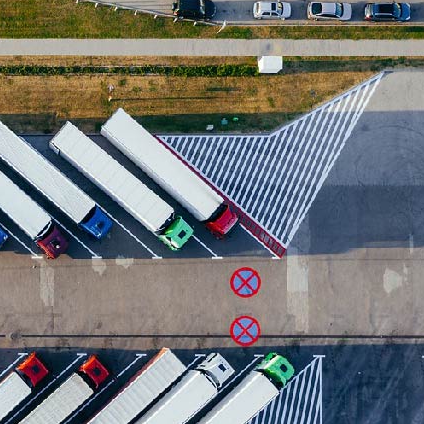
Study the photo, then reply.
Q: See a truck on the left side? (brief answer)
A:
Yes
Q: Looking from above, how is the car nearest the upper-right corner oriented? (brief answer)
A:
horizontally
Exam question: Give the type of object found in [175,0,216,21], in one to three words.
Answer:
car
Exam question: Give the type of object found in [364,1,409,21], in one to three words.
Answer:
car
